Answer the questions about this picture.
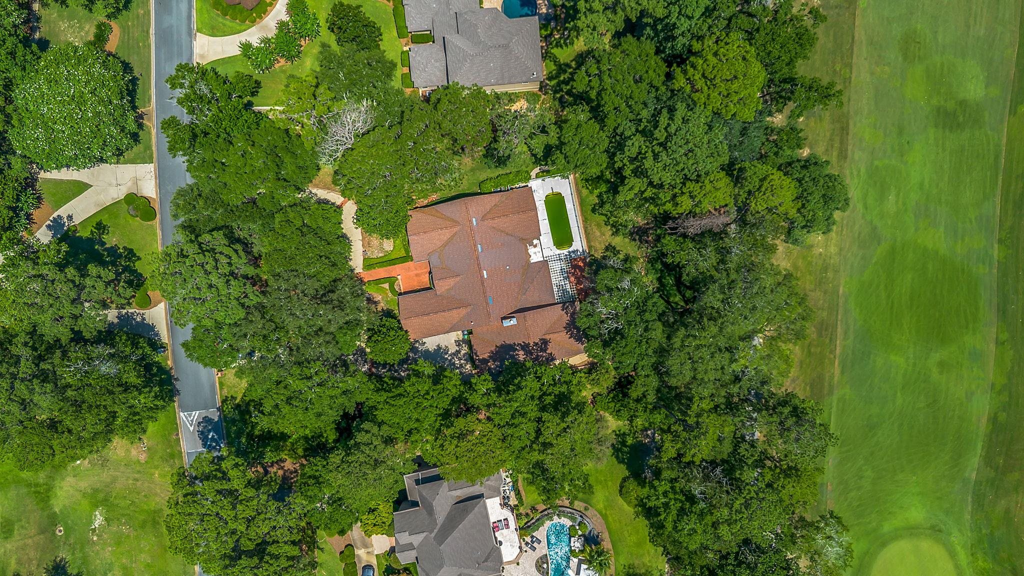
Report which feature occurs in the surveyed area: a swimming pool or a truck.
swimming pool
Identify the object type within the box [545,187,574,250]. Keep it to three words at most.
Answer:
swimming pool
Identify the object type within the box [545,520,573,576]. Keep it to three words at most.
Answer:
swimming pool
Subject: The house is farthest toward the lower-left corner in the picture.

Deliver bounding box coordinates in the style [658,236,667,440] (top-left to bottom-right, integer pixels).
[393,463,503,576]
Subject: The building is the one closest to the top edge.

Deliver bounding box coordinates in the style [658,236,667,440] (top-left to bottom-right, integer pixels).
[405,0,543,99]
